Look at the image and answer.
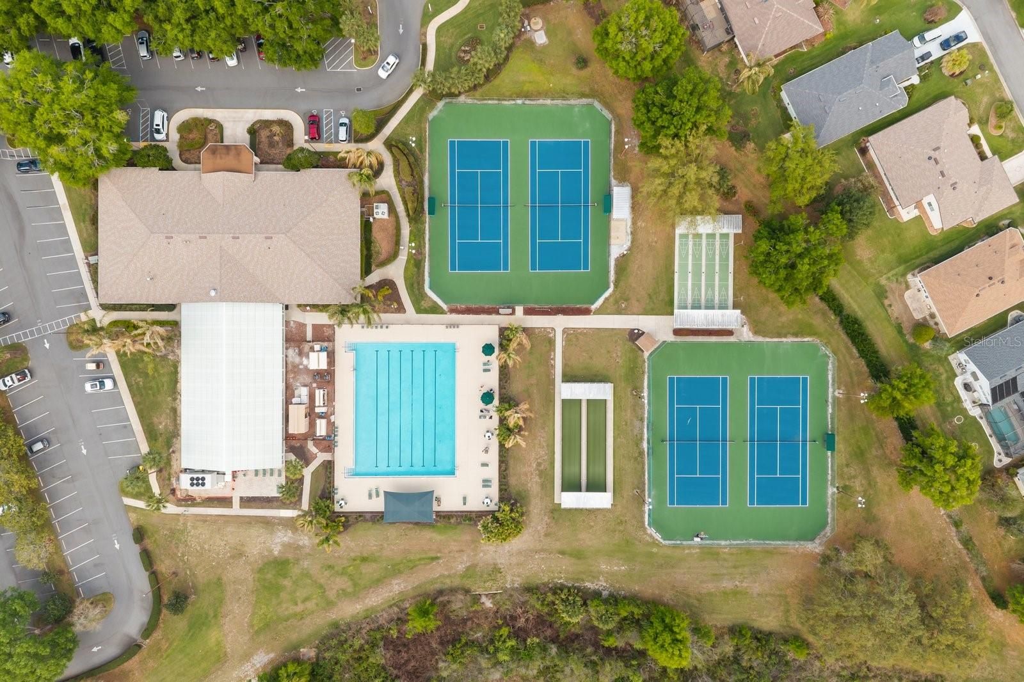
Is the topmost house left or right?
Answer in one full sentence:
It is on the right.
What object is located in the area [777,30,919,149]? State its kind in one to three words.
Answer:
house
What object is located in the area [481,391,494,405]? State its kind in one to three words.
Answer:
umbrella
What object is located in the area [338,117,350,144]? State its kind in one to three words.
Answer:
vehicle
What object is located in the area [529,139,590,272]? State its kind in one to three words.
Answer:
tennis court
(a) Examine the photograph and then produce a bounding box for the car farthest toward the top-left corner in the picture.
[1,46,19,73]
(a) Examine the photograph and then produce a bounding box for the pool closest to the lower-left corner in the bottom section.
[335,324,498,512]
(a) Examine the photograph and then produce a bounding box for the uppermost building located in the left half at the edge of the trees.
[98,144,363,304]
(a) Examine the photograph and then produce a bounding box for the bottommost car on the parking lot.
[27,437,53,456]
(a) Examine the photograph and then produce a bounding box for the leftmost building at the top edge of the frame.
[716,0,824,67]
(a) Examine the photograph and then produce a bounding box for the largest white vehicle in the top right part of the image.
[911,27,943,49]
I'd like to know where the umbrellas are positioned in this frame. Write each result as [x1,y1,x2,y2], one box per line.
[481,391,494,405]
[482,343,495,356]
